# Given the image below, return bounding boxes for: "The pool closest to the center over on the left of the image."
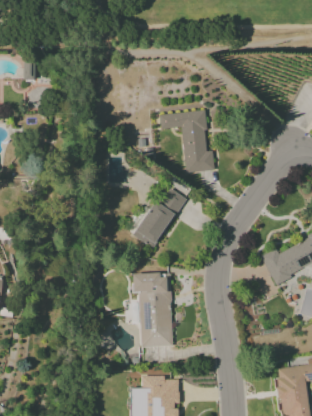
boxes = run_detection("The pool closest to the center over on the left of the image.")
[110,158,128,183]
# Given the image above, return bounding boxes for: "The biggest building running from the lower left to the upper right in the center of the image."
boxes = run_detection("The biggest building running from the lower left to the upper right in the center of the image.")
[132,182,189,247]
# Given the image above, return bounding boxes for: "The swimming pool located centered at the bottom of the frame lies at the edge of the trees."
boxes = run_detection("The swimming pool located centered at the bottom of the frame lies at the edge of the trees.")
[114,326,134,352]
